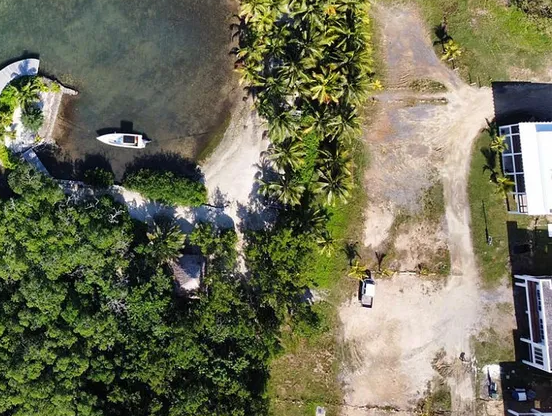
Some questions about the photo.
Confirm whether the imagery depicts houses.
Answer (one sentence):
Yes, looking at the shot, I can spot a house.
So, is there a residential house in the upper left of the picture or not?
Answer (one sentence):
No, I see no residential house in the upper left of the picture.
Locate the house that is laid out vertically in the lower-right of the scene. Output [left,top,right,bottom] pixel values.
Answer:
[503,270,552,372]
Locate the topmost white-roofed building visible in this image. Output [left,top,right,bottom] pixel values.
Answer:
[500,120,552,220]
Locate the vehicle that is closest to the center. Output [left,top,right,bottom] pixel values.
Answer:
[359,277,377,307]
